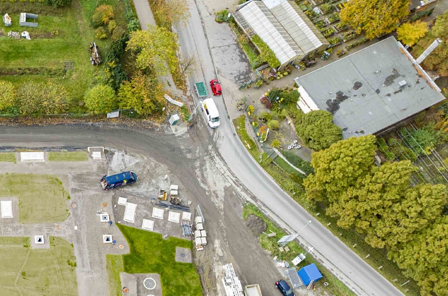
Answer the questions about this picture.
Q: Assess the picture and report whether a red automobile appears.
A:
Yes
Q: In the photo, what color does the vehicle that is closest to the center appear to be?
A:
white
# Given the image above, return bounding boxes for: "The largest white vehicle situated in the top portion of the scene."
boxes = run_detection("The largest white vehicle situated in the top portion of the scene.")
[197,93,222,128]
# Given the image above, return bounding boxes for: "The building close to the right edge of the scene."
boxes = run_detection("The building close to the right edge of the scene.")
[289,34,448,152]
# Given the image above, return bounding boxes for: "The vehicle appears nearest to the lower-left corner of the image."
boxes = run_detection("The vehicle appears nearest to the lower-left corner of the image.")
[96,170,137,195]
